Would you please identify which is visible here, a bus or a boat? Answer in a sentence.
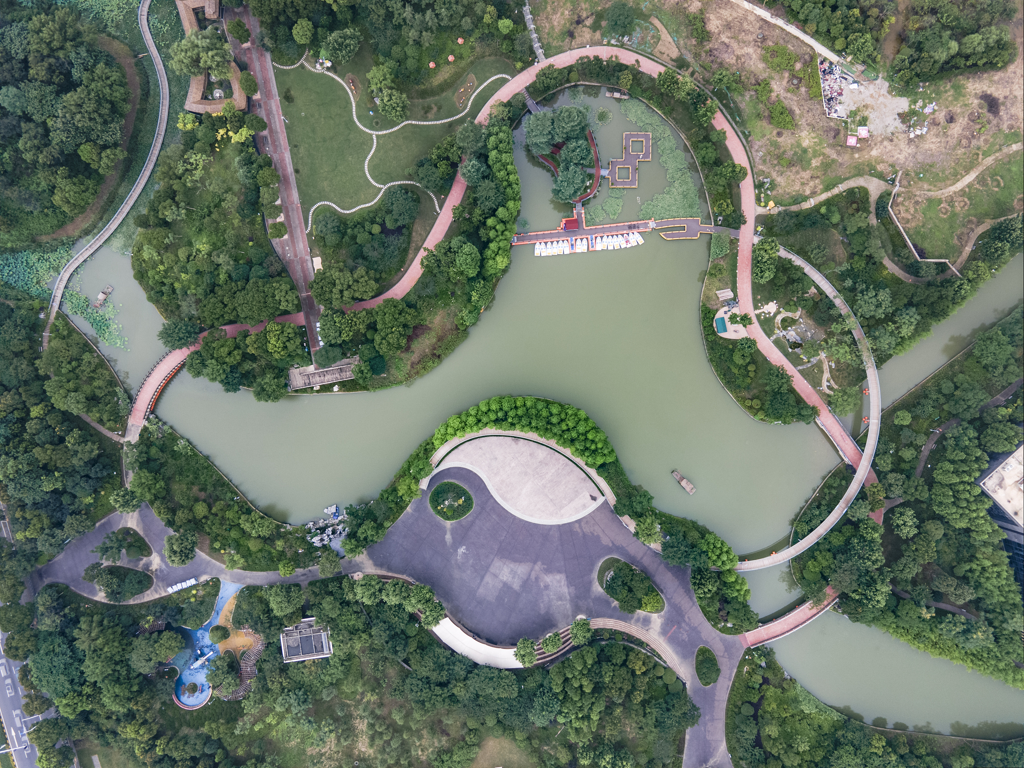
The one in the frame is a boat.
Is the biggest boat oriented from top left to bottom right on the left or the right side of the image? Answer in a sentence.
The biggest boat oriented from top left to bottom right is on the right side of the image.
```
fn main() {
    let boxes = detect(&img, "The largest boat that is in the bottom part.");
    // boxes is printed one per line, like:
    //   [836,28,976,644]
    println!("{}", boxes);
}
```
[673,468,694,494]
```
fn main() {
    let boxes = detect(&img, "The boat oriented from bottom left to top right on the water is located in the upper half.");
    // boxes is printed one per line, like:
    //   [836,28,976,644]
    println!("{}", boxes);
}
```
[94,286,112,307]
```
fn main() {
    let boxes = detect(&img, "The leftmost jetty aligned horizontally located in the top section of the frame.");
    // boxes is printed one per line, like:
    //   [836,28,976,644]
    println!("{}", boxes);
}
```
[513,208,652,253]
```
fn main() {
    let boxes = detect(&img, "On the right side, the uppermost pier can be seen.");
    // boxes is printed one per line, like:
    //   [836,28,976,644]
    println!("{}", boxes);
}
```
[604,132,652,188]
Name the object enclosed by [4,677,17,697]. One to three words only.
vehicle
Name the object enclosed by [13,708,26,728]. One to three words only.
vehicle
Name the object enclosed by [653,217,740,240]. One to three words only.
pier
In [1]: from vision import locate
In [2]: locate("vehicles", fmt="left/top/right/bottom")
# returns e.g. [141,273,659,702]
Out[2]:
[4,677,17,697]
[167,585,174,593]
[0,656,11,676]
[13,708,26,728]
[177,581,183,590]
[186,578,192,586]
[172,583,178,591]
[191,576,199,585]
[181,580,187,588]
[20,734,33,754]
